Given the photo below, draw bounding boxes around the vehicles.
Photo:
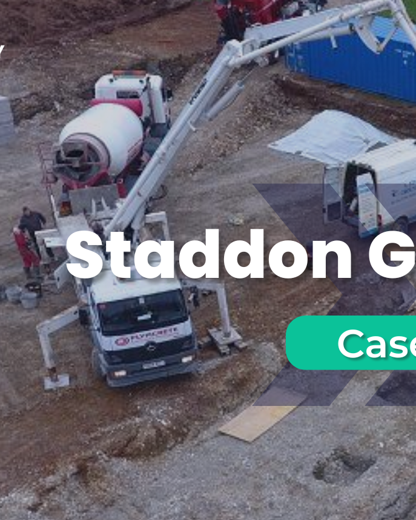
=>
[30,0,416,385]
[200,0,313,40]
[322,138,416,245]
[27,66,195,214]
